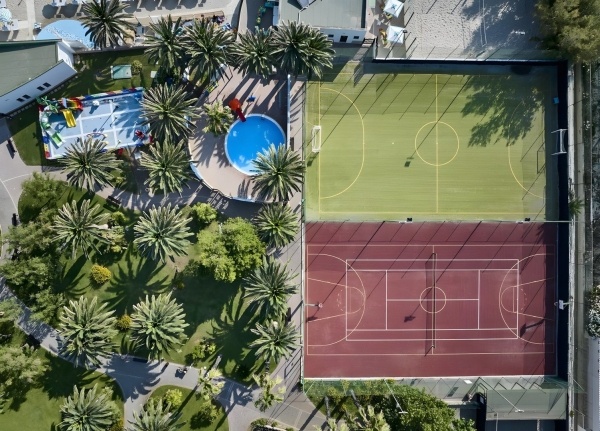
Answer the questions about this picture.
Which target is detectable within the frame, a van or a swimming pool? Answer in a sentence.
I can see a swimming pool in this picture.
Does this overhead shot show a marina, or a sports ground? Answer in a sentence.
What you see here is a sports ground.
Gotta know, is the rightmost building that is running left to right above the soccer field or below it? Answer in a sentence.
Relative to the soccer field, the rightmost building that is running left to right lies below it.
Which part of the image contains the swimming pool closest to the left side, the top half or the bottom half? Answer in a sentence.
You can find the swimming pool closest to the left side in the top half.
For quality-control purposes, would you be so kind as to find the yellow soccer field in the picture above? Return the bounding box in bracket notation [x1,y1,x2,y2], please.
[305,63,557,221]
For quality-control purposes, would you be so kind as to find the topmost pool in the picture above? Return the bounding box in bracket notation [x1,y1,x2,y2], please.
[36,16,96,50]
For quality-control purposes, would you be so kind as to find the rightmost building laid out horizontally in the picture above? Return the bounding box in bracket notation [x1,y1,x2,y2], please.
[478,388,560,419]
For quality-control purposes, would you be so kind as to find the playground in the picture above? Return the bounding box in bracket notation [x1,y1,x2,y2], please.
[36,84,153,163]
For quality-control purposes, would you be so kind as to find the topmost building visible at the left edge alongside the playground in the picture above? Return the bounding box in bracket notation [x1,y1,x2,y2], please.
[0,37,87,116]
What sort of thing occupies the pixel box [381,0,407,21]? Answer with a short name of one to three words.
umbrella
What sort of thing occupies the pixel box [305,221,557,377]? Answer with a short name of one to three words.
tennis court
